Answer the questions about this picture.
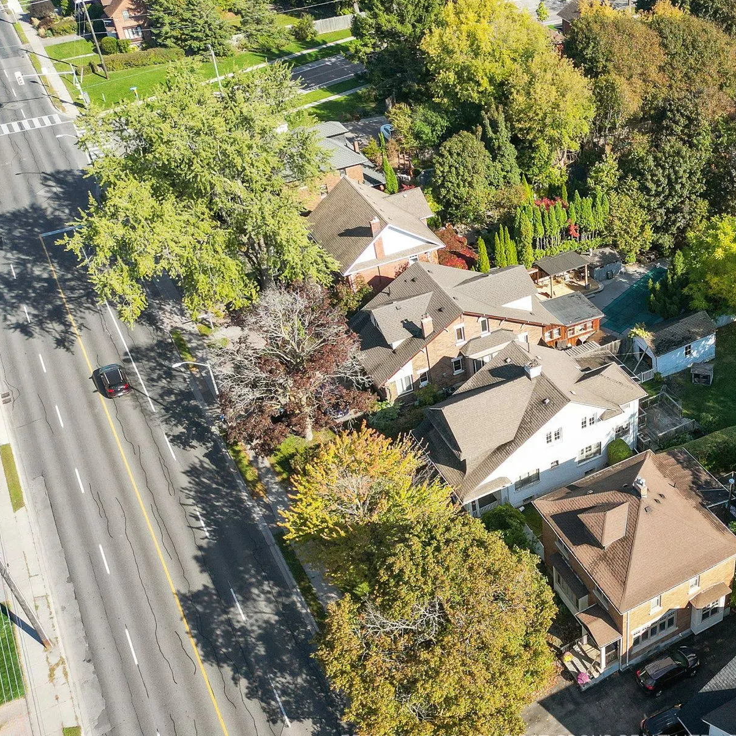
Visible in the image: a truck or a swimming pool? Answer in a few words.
swimming pool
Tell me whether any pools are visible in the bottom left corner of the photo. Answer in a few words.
No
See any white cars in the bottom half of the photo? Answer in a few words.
No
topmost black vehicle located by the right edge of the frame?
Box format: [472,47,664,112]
[634,640,706,694]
